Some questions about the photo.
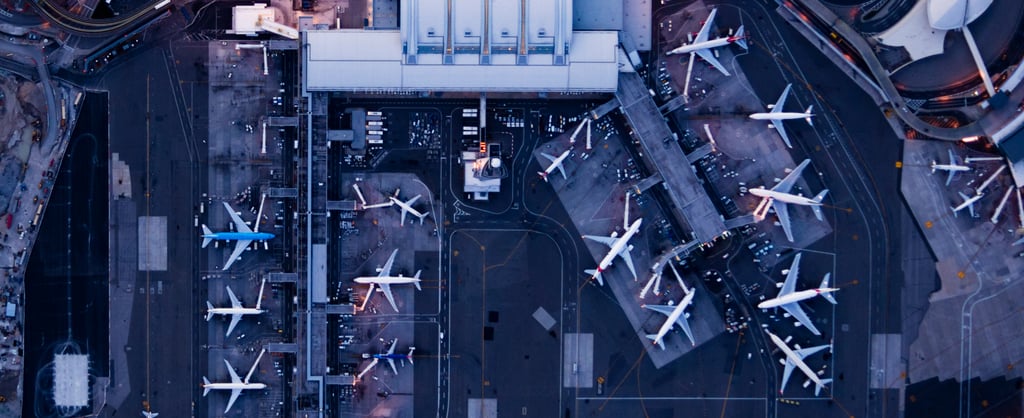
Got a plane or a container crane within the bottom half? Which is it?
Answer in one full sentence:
Looking within the bottom half, you will find a plane.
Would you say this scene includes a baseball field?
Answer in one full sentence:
No, the scene contains no baseball field.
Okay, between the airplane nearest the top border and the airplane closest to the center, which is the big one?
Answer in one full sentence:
Compared with the airplane closest to the center, the airplane nearest the top border is the bigger one.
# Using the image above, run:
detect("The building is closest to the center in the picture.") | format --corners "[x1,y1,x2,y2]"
[462,142,509,199]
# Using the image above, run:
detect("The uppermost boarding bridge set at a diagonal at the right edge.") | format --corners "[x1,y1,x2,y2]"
[975,164,1007,195]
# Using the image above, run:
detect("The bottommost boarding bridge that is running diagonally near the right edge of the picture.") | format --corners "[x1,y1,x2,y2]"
[991,187,1014,221]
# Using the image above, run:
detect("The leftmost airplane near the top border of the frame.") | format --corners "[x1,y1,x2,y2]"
[669,9,745,78]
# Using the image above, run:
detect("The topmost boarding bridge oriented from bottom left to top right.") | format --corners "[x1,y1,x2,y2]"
[570,116,590,143]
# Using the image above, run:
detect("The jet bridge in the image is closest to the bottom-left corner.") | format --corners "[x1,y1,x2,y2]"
[245,346,268,384]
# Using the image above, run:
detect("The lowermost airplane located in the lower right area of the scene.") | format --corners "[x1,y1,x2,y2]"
[767,331,829,393]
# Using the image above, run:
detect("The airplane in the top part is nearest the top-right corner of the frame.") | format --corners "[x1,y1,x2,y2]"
[933,149,969,185]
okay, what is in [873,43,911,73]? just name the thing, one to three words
building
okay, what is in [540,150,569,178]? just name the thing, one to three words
airplane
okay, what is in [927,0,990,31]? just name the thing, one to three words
building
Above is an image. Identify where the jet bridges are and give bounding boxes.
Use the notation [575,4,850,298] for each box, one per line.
[975,164,1007,195]
[359,284,375,310]
[758,199,776,221]
[356,356,380,378]
[964,156,1005,162]
[362,201,395,210]
[757,198,770,219]
[234,43,268,50]
[991,187,1014,221]
[254,191,268,233]
[640,271,658,299]
[245,346,268,384]
[653,272,662,295]
[624,191,630,228]
[686,53,695,98]
[570,116,590,143]
[263,46,270,77]
[586,118,591,150]
[256,276,267,311]
[352,182,367,206]
[669,259,689,294]
[261,120,268,154]
[703,123,715,149]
